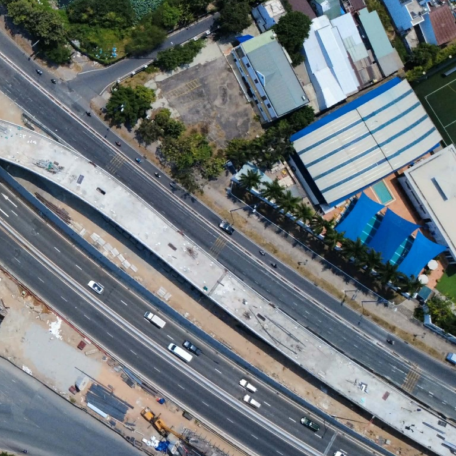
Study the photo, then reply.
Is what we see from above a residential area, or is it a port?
residential area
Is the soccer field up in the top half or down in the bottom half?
top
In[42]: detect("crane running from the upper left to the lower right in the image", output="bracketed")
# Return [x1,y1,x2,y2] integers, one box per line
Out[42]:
[135,400,187,447]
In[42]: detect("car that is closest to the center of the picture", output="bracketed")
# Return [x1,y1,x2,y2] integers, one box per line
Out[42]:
[217,220,233,234]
